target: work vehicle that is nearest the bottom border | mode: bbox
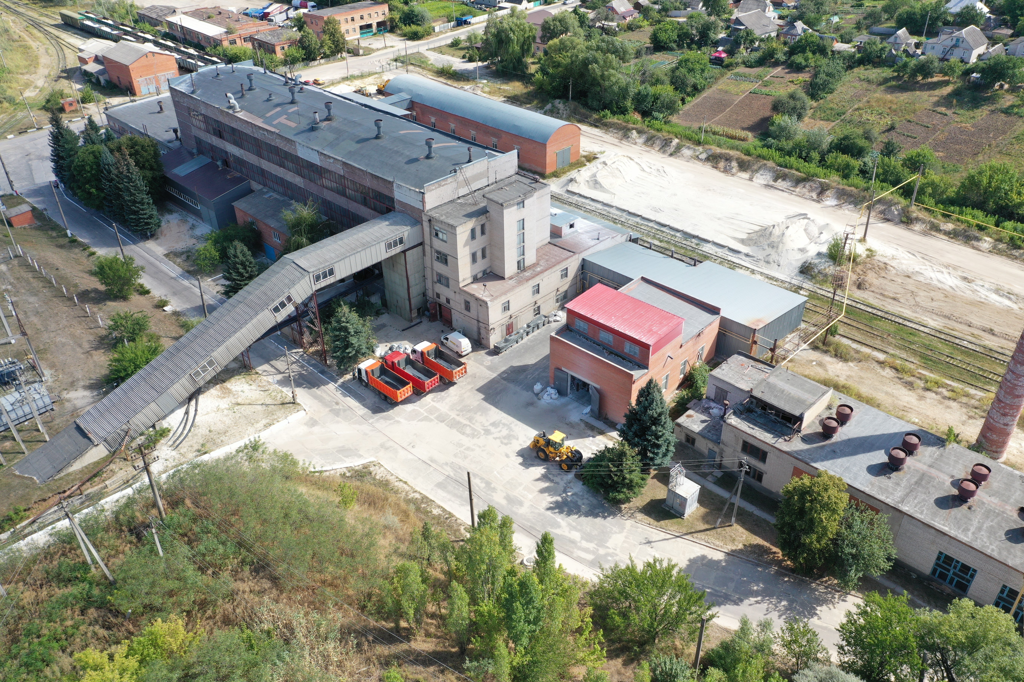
[532,428,596,483]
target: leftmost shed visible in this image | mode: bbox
[0,196,36,228]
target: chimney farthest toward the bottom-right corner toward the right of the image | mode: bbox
[973,346,1024,470]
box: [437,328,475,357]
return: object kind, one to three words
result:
van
